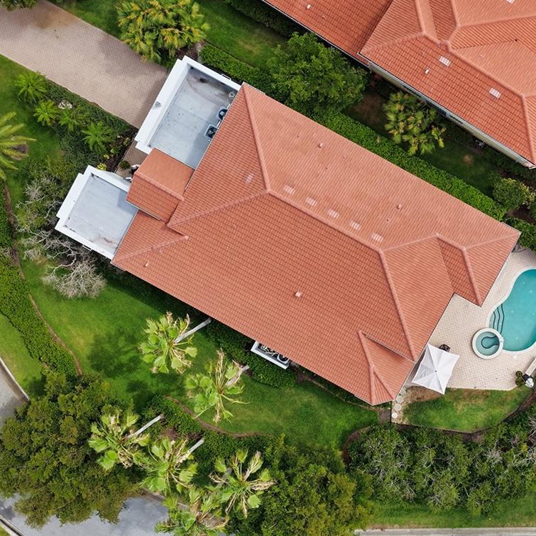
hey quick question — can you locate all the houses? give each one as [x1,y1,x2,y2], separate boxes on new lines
[55,56,521,405]
[262,0,536,166]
